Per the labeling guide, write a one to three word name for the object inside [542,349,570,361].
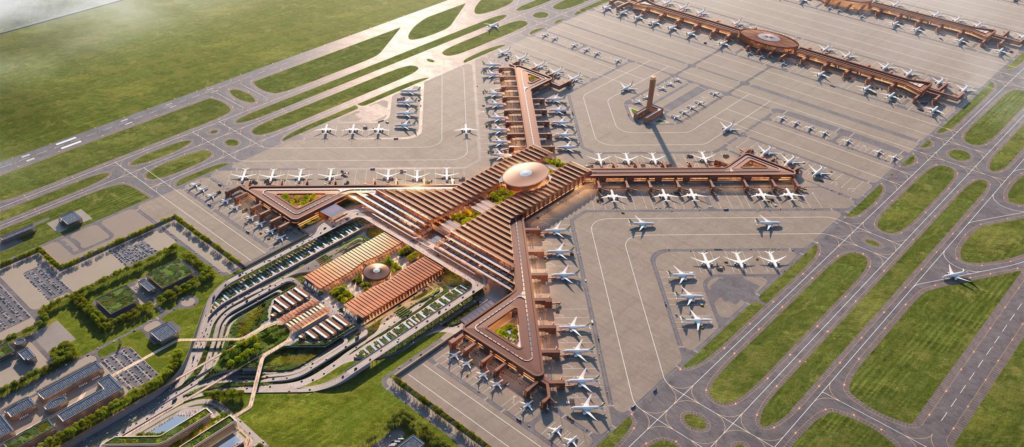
jet bridge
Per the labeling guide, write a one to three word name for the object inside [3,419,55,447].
building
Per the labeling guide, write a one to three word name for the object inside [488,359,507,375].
jet bridge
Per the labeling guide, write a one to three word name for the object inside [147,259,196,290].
building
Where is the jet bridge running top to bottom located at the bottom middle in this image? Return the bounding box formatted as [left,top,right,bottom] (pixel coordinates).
[538,379,551,410]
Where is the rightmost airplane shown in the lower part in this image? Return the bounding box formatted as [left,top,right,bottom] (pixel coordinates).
[942,264,970,281]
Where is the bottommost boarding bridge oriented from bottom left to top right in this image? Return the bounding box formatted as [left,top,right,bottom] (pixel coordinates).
[523,380,540,400]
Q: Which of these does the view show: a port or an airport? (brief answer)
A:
airport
